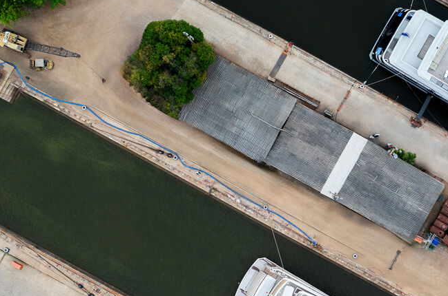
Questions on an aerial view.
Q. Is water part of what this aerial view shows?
Yes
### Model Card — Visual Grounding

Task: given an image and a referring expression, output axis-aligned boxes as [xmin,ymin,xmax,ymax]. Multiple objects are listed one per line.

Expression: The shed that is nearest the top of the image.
[179,53,296,161]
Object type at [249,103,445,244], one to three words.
shed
